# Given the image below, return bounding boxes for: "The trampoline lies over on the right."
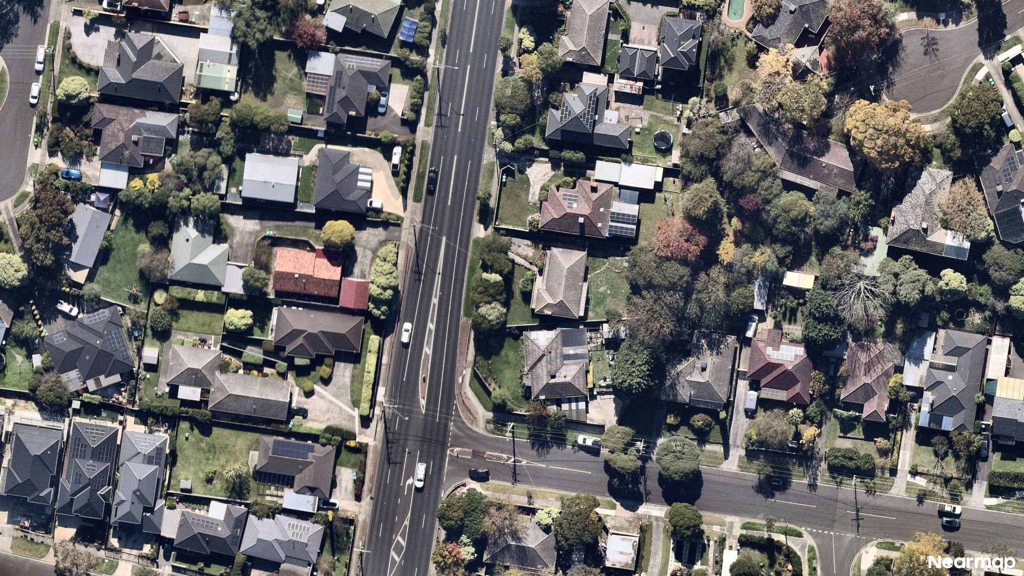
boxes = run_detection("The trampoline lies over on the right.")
[654,129,673,148]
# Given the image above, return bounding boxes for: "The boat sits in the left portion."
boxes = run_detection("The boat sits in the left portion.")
[55,299,81,315]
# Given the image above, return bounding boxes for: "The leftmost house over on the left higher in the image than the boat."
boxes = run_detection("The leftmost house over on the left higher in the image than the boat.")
[63,202,111,267]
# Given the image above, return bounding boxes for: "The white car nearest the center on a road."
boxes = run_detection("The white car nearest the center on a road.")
[400,320,413,346]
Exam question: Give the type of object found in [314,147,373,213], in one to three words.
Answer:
house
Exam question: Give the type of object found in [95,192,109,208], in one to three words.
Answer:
gazebo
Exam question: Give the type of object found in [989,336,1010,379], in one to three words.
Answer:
shed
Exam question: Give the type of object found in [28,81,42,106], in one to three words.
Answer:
car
